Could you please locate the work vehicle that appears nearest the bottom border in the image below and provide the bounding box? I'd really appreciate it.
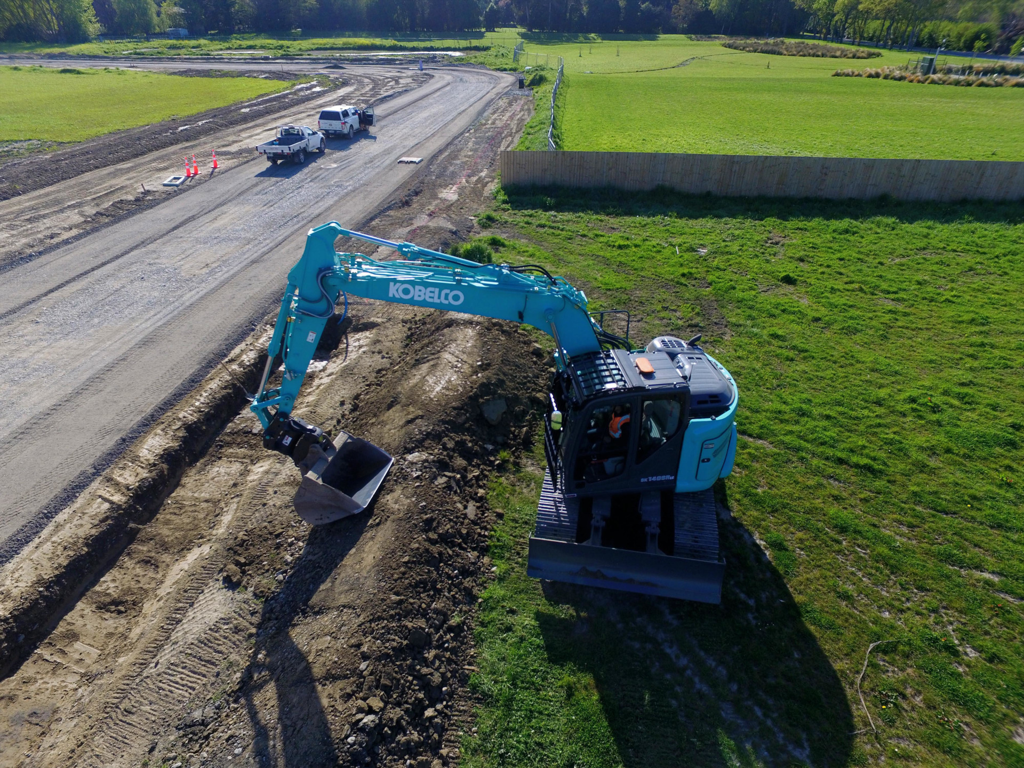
[247,214,742,604]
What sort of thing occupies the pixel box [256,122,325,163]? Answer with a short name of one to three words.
truck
